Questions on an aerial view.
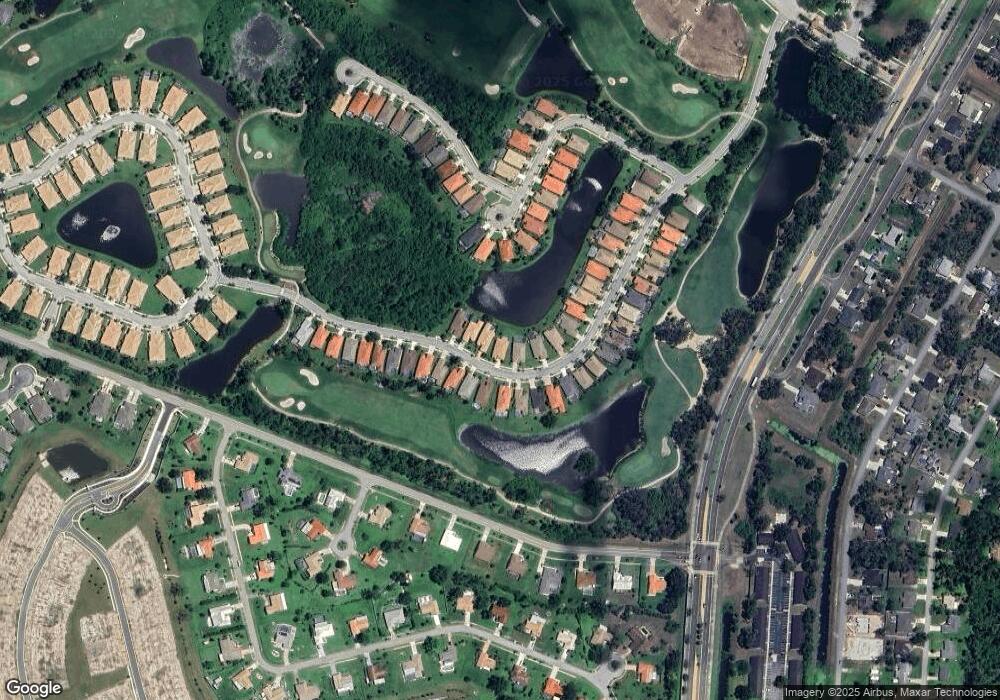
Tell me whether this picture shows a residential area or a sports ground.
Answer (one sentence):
It's a residential area.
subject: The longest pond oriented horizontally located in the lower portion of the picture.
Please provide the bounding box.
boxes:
[459,384,648,490]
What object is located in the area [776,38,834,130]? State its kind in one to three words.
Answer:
pond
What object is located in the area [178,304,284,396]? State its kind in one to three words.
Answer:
pond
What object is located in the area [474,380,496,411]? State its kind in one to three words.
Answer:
house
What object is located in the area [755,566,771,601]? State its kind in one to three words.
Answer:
building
